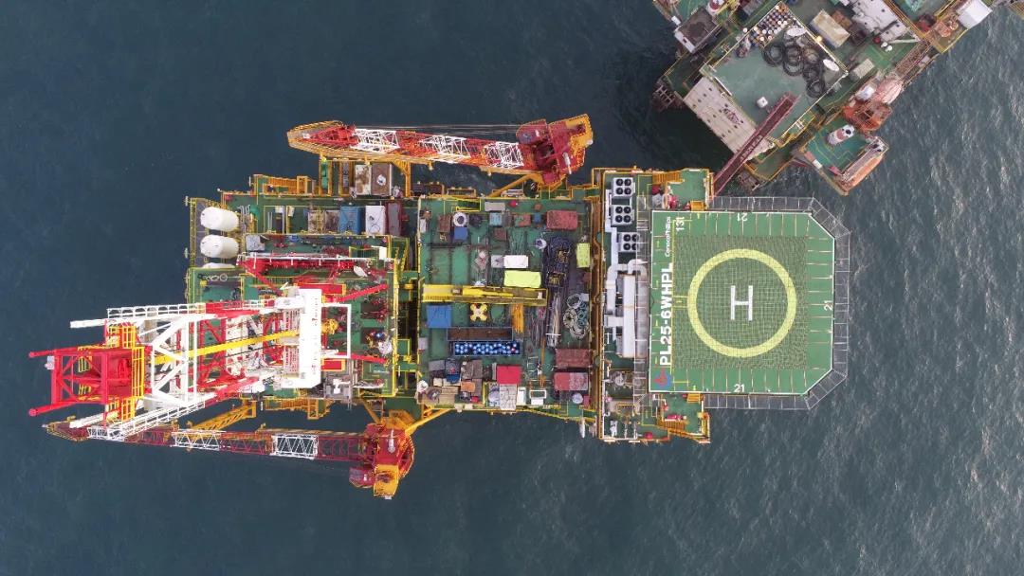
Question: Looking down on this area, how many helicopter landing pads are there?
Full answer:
Just 1 helicopter landing pad appears in this view.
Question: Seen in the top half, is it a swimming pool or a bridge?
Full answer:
It is a bridge that can be seen in the top half.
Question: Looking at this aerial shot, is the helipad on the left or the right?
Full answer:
The helipad is on the right side of the image.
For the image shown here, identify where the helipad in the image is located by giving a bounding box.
[634,195,850,410]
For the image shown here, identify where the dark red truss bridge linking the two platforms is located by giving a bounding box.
[702,87,806,200]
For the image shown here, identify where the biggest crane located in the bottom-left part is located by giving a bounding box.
[35,398,450,501]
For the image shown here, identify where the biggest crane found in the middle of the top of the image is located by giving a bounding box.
[283,111,594,199]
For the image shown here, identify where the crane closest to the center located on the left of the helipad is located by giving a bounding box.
[422,287,548,304]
